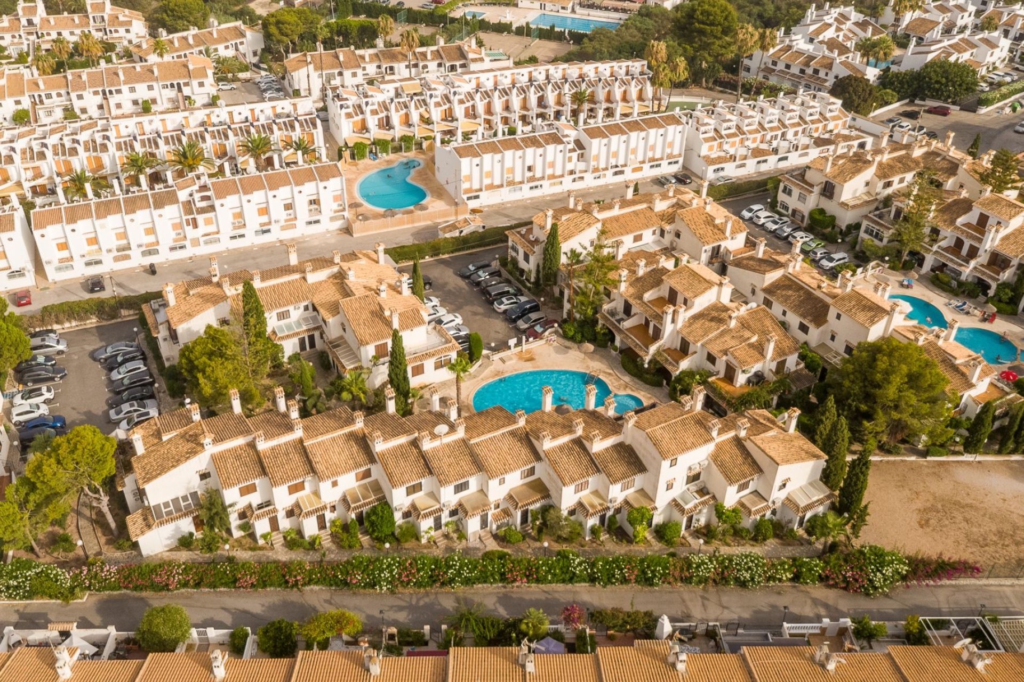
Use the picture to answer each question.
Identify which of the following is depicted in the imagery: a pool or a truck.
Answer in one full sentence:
Visible in the photo is a pool.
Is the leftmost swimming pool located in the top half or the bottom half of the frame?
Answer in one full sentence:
The leftmost swimming pool is in the top half of the image.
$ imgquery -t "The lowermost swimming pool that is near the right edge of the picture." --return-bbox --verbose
[949,323,1024,368]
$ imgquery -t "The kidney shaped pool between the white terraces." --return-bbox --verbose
[356,157,430,209]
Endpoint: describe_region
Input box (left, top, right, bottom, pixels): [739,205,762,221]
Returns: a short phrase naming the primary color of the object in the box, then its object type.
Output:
white car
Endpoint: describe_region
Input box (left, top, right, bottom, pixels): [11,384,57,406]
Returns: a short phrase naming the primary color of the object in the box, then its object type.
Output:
white car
